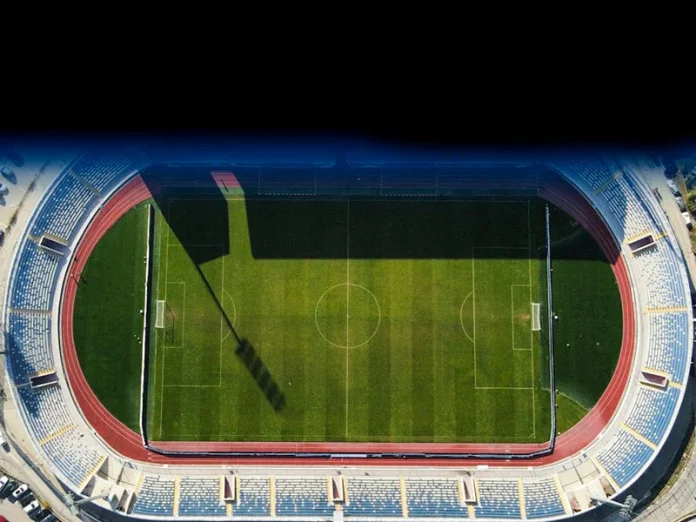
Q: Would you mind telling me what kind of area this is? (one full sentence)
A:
This image shows a sports ground.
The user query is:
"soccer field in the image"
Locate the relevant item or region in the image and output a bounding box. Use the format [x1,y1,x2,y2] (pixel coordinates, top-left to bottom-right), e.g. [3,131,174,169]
[149,196,546,445]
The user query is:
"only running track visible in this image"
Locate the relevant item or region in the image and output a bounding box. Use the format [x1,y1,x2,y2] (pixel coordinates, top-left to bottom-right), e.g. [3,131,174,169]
[61,169,636,468]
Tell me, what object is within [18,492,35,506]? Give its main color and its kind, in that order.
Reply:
black vehicle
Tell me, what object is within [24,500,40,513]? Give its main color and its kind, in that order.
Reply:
white vehicle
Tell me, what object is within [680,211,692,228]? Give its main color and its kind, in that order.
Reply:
white vehicle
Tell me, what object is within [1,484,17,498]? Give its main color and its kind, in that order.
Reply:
black vehicle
